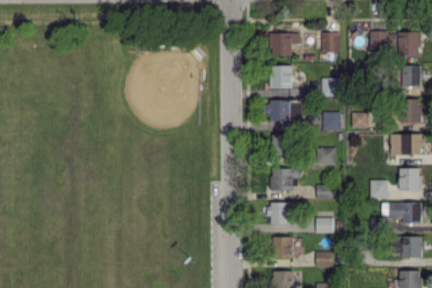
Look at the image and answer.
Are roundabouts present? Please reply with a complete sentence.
No, I find no roundabout anywhere in the image.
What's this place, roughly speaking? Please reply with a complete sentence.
The area seen from above is a sports ground.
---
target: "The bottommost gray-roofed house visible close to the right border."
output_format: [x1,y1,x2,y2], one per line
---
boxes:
[400,270,422,288]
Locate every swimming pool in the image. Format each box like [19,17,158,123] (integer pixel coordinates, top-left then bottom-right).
[353,35,366,48]
[318,236,330,250]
